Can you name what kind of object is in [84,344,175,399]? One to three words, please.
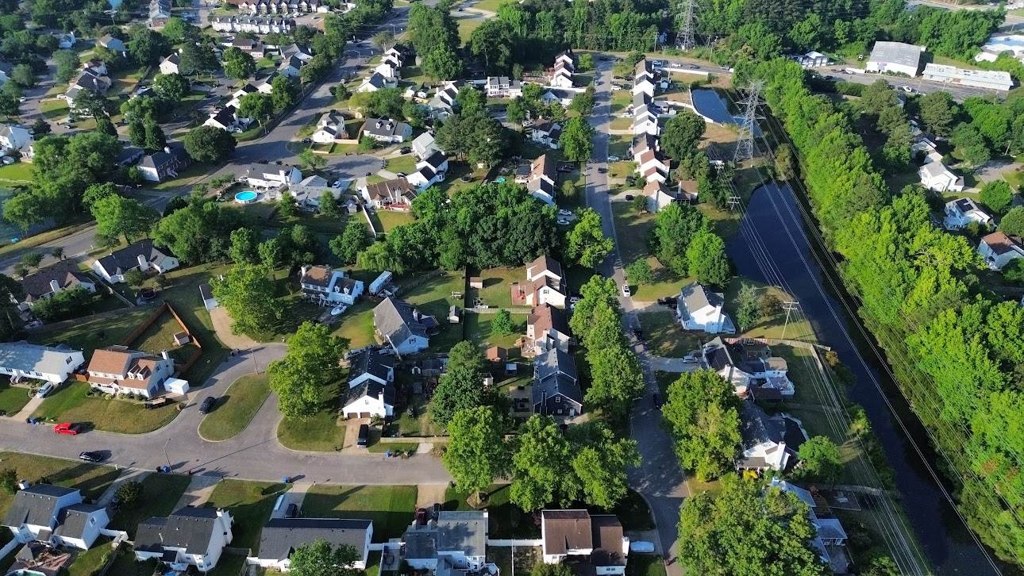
house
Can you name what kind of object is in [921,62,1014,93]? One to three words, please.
building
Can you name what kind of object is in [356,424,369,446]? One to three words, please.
vehicle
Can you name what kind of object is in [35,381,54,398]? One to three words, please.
car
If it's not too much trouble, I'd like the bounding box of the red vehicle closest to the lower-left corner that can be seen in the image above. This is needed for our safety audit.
[52,421,84,436]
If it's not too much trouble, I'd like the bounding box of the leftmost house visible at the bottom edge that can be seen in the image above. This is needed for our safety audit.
[5,481,108,576]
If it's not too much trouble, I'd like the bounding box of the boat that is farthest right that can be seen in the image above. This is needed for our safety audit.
[329,300,351,317]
